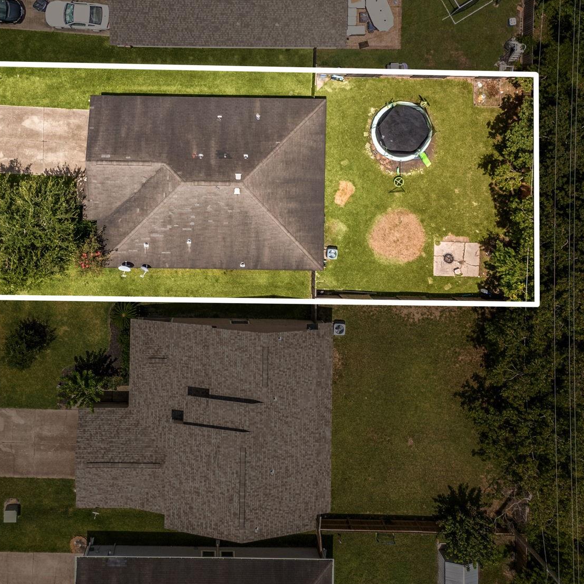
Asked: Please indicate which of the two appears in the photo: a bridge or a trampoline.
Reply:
trampoline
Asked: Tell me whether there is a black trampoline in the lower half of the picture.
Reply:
No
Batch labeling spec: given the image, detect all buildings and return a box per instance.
[444,549,482,584]
[87,96,328,278]
[69,314,334,543]
[72,538,336,584]
[105,0,346,49]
